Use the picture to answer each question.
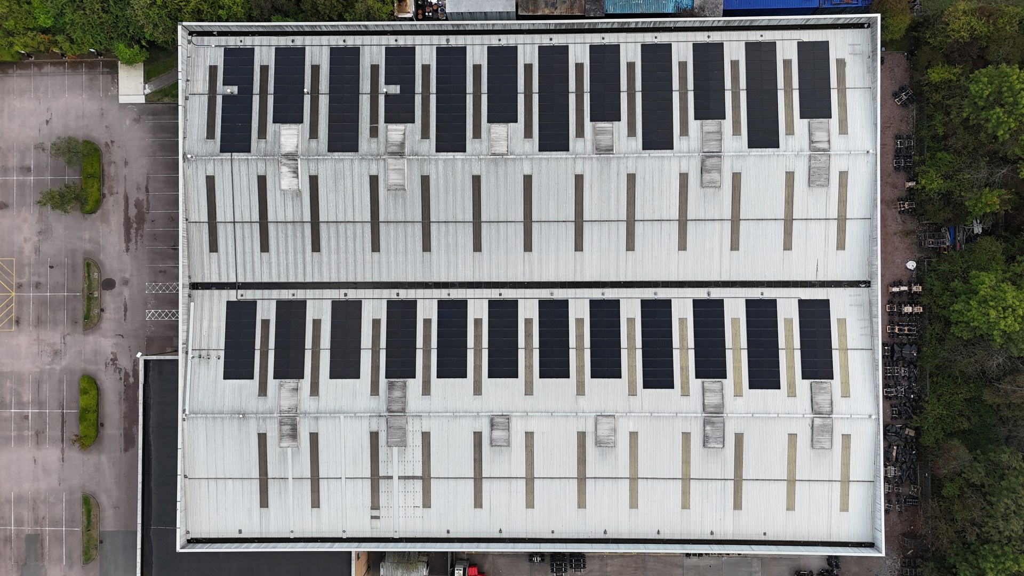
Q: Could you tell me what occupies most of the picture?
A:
buildings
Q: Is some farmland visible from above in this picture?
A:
No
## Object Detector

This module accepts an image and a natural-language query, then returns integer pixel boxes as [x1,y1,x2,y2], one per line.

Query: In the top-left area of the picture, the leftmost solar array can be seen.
[220,48,254,152]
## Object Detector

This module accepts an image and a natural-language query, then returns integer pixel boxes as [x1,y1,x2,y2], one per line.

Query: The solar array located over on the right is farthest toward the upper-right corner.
[797,41,832,118]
